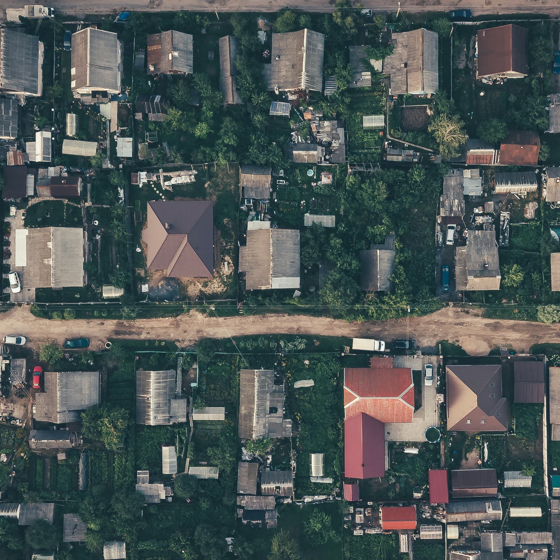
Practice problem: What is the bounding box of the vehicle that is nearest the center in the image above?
[352,338,385,352]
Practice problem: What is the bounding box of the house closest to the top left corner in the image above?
[0,28,49,106]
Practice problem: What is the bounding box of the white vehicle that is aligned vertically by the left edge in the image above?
[8,270,22,294]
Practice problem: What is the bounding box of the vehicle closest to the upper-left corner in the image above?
[21,2,56,20]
